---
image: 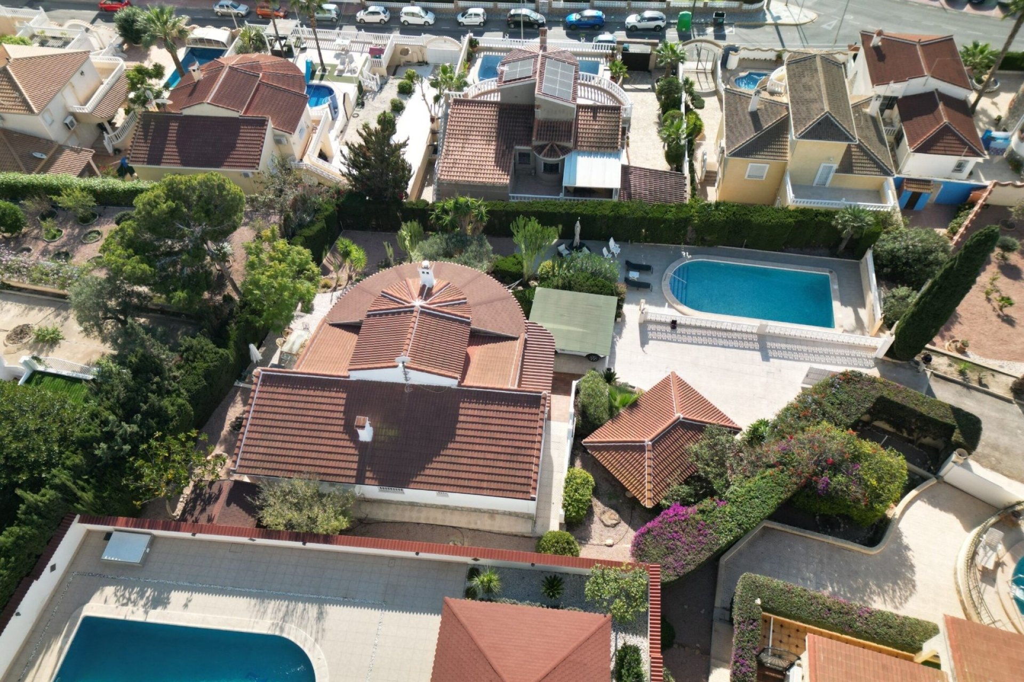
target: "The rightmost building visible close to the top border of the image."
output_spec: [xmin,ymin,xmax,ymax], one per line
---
[847,18,990,184]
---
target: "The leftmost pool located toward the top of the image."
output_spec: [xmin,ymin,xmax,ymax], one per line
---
[168,48,220,90]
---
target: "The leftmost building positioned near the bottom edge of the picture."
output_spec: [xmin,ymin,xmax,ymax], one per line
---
[430,597,613,682]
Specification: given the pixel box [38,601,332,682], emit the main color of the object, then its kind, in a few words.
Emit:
blue swimming pool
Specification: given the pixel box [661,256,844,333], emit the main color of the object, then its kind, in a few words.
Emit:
blue swimming pool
